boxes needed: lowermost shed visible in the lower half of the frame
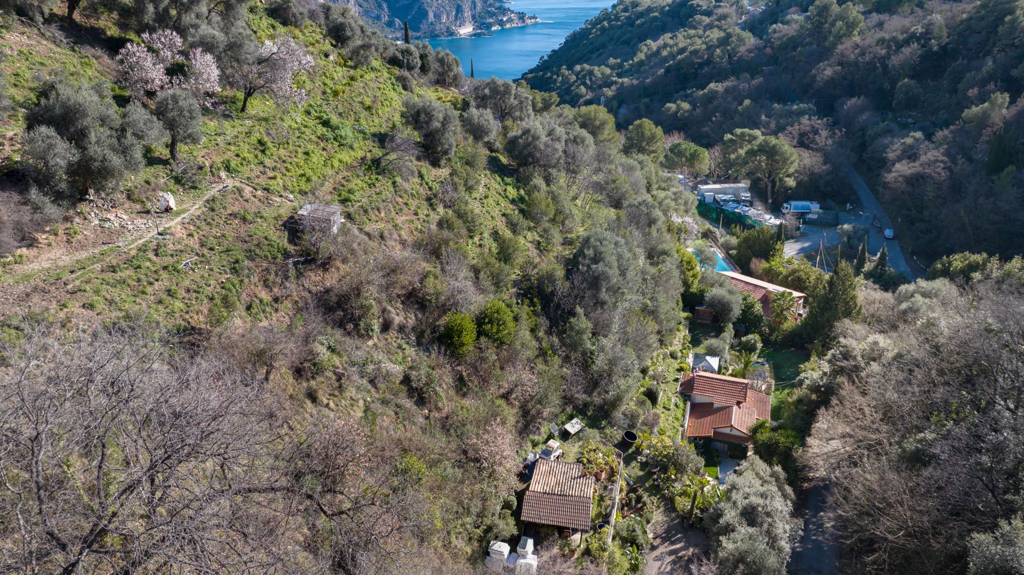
[517,459,594,549]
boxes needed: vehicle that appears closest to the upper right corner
[883,227,898,242]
